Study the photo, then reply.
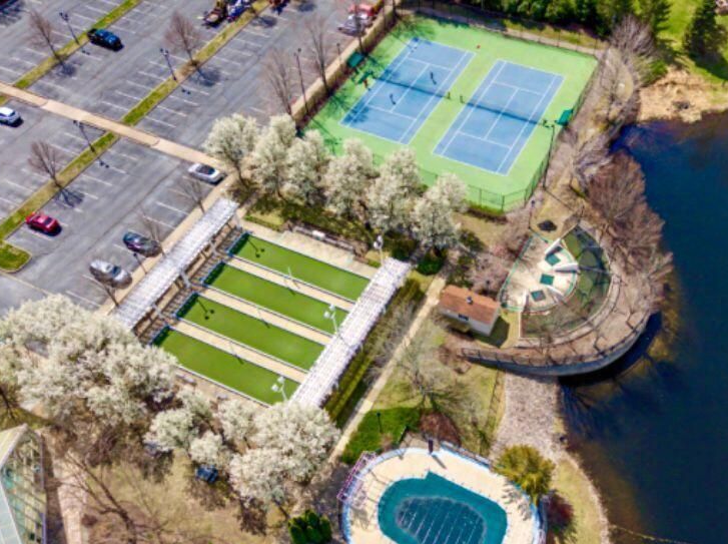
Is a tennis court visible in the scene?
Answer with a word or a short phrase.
Yes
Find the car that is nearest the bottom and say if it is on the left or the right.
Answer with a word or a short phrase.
left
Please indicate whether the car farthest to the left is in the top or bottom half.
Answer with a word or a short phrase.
top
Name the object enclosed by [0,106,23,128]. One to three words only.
car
